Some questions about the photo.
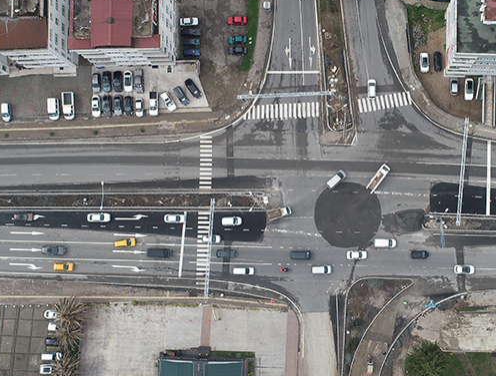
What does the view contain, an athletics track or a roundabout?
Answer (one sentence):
The image shows a roundabout.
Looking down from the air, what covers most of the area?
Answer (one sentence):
What you mostly see from above here is paved ground.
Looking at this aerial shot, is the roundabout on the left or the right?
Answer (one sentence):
You can find the roundabout on the right side of the picture.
